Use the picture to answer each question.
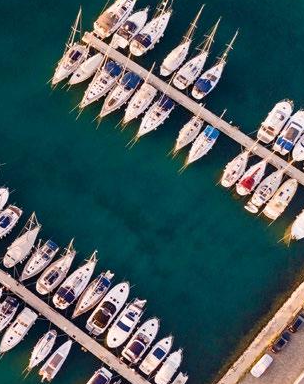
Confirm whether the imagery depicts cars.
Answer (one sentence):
Yes, you can see a car in this photo.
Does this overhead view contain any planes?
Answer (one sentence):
No, there isn't any plane down there.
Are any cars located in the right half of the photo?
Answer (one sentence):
Yes, the scene does show a car in the right half of the photo.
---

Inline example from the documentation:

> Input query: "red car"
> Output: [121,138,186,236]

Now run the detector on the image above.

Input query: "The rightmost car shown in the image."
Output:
[288,312,304,333]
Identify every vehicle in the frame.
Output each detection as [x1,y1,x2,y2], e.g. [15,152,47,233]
[288,312,304,333]
[270,331,291,353]
[251,353,275,379]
